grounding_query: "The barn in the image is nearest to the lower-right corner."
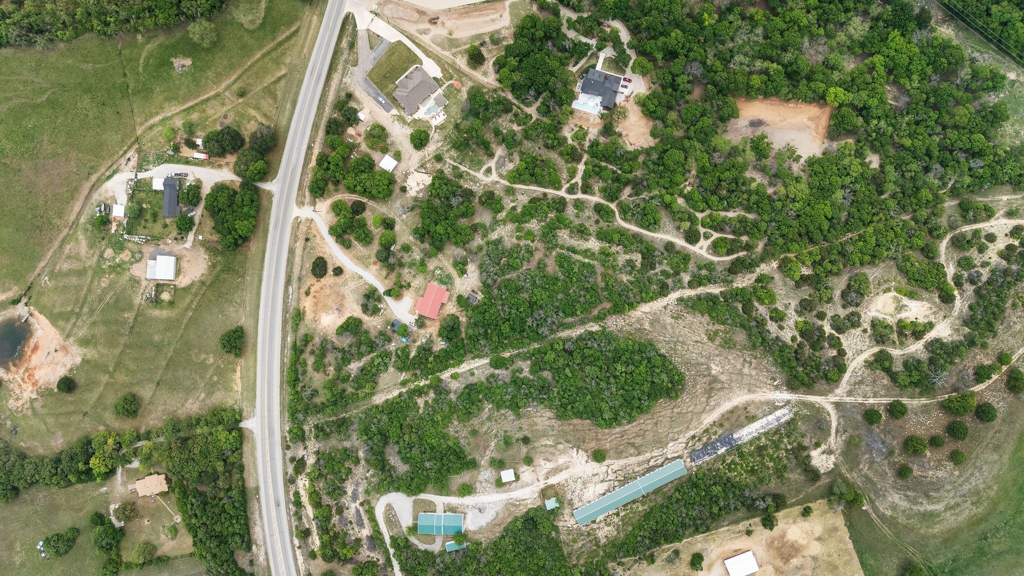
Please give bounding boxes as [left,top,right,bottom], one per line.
[722,548,759,576]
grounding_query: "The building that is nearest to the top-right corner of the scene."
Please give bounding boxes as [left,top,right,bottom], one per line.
[581,68,623,113]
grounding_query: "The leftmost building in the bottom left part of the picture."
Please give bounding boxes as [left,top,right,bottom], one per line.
[136,474,169,497]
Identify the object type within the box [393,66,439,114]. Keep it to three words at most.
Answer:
house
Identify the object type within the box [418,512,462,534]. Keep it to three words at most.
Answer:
house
